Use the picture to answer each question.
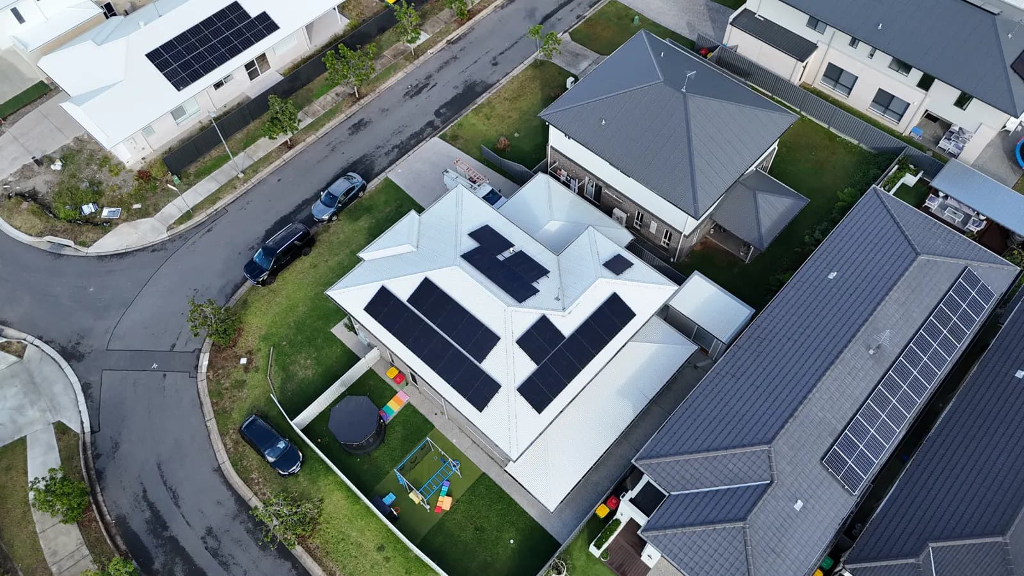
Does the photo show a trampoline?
Yes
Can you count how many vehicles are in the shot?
4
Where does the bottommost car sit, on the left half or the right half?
left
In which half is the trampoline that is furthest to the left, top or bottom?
bottom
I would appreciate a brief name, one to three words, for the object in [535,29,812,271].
house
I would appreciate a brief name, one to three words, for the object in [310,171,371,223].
car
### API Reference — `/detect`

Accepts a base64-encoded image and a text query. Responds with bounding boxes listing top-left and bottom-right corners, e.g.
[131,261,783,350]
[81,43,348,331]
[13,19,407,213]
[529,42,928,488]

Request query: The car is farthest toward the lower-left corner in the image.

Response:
[232,408,304,477]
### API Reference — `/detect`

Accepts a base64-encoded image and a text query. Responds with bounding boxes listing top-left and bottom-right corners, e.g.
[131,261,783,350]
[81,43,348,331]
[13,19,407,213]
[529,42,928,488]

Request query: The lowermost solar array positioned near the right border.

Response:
[824,267,995,497]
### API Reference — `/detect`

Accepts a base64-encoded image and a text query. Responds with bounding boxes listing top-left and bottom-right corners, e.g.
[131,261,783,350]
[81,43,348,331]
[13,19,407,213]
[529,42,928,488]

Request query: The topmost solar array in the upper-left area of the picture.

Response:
[144,2,278,91]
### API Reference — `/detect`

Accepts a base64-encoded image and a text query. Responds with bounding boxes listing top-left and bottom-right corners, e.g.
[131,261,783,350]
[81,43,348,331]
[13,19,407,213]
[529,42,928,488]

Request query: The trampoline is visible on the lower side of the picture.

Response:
[334,397,389,457]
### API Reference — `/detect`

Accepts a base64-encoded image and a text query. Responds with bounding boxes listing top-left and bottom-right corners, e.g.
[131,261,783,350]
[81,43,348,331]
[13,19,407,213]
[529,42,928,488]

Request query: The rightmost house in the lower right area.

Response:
[838,291,1024,576]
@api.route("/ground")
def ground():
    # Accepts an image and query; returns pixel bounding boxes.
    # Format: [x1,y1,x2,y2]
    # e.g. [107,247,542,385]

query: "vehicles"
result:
[245,219,318,285]
[310,171,371,223]
[232,408,304,477]
[441,156,506,209]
